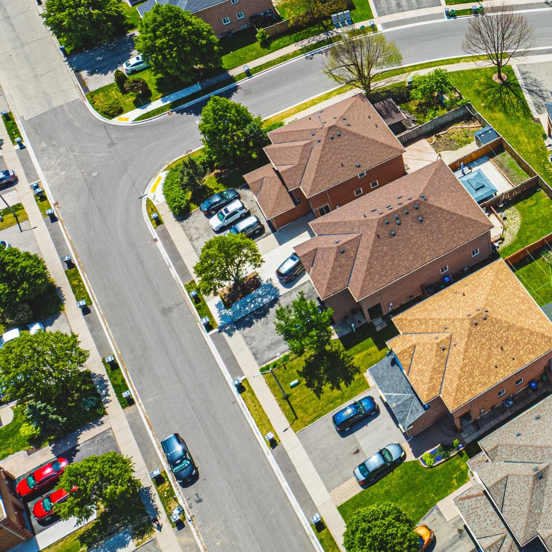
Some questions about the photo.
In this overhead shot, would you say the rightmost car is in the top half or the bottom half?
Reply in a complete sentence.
The rightmost car is in the bottom half of the image.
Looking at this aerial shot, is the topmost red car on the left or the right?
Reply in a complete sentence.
It is on the left.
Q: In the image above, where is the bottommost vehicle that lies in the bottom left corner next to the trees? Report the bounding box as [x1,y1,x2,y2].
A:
[31,489,69,522]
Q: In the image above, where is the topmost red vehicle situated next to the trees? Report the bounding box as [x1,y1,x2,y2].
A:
[16,458,63,497]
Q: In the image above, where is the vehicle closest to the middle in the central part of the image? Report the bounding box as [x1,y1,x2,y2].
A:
[271,258,303,285]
